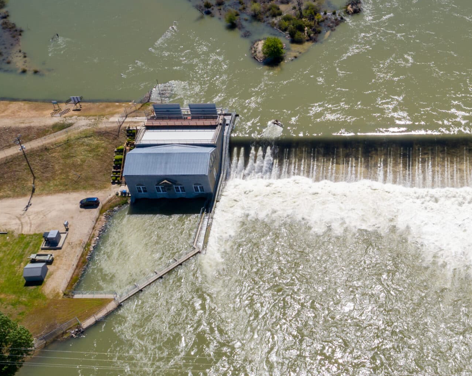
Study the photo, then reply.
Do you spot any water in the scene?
Yes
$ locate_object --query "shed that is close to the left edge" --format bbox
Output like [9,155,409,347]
[17,264,53,286]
